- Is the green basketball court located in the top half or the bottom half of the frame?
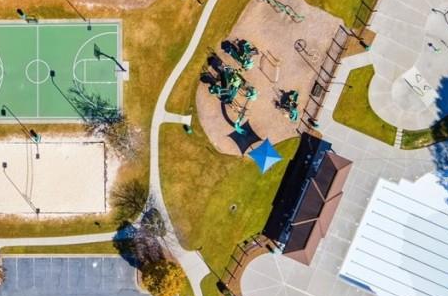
top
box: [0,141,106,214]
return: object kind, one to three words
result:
sports court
